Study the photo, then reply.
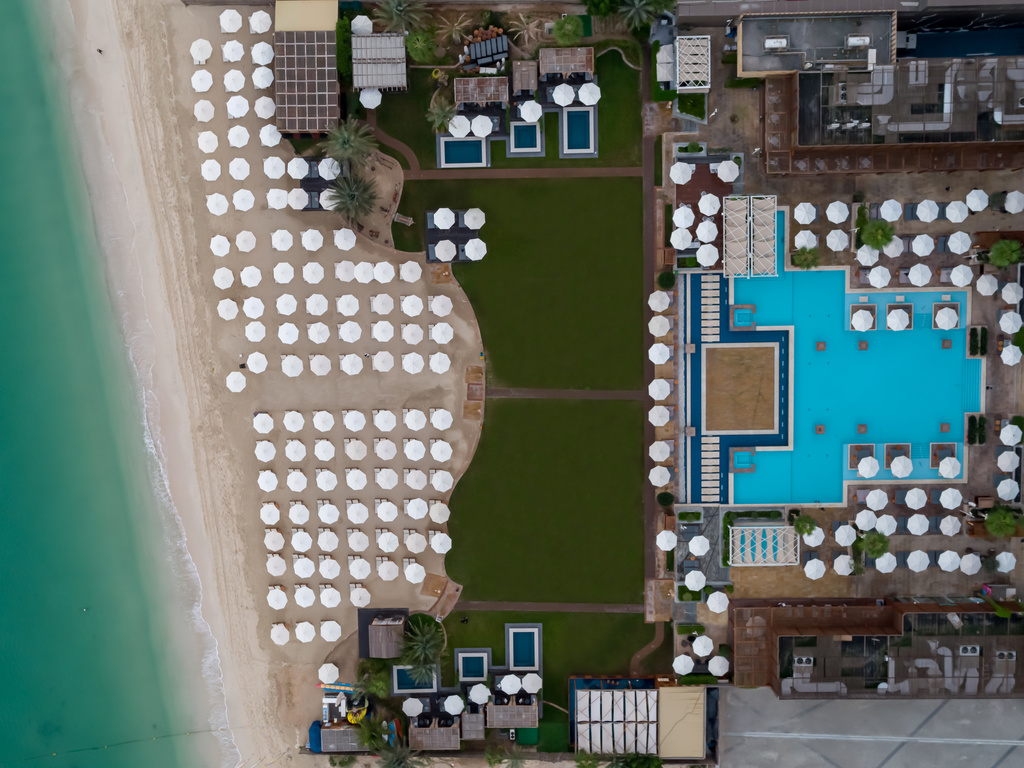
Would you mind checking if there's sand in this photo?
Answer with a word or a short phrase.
Yes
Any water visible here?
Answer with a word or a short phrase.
Yes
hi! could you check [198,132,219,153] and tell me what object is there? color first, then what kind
white umbrella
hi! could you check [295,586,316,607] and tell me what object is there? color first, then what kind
white umbrella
